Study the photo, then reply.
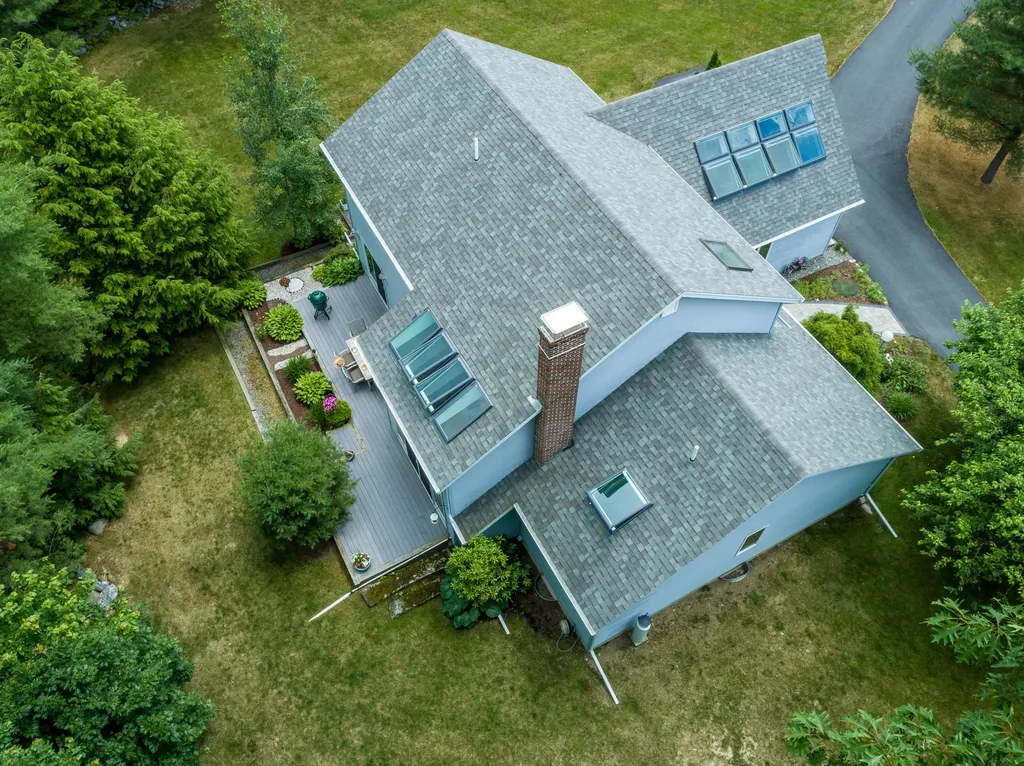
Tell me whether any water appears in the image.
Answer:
No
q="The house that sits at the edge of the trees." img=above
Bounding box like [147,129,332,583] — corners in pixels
[319,28,923,650]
